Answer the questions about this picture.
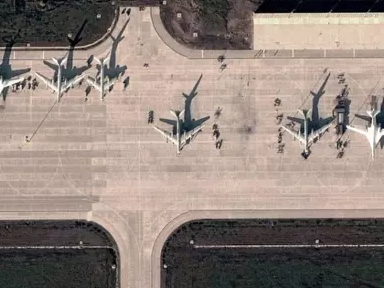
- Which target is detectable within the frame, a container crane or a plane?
plane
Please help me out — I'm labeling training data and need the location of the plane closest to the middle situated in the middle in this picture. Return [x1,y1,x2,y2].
[154,107,204,154]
